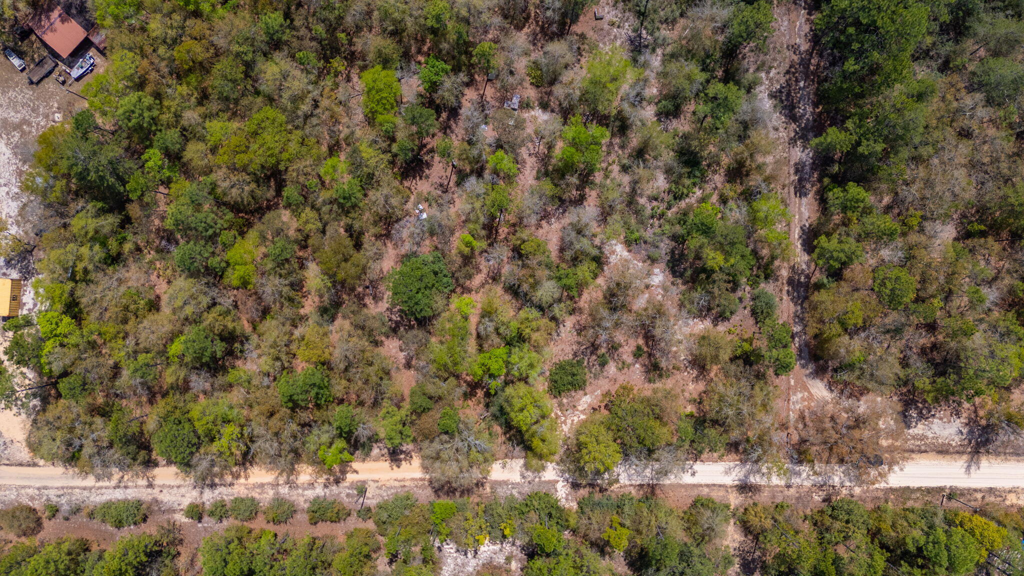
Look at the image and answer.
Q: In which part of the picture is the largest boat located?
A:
top left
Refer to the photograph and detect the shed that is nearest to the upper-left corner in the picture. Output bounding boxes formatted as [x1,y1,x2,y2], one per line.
[29,0,89,61]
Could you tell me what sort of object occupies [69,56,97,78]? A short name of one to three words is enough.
boat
